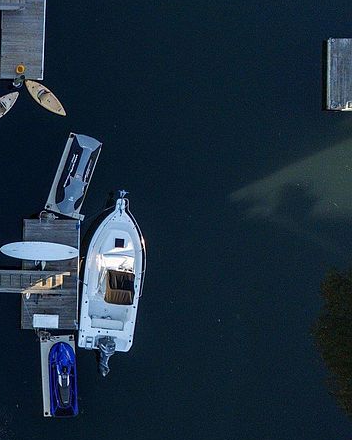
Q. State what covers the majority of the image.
water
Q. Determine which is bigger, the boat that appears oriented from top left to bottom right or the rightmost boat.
the rightmost boat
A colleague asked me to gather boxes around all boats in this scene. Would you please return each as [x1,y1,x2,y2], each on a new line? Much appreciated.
[0,93,20,117]
[24,80,67,115]
[78,190,150,379]
[49,340,78,417]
